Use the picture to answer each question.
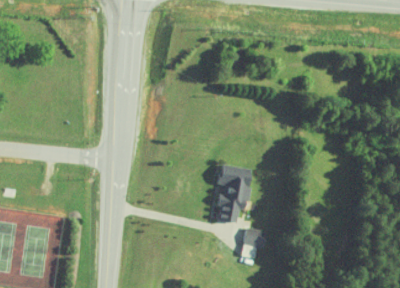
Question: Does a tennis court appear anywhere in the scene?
Yes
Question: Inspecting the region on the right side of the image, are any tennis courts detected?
No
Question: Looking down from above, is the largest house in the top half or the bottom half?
bottom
